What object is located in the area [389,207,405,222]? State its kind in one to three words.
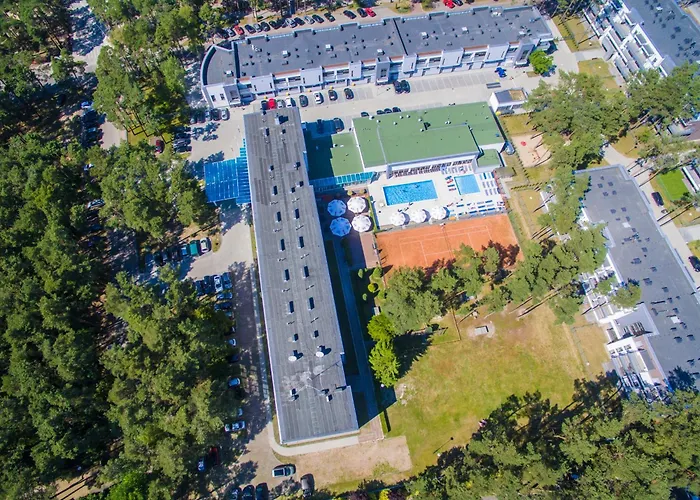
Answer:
umbrella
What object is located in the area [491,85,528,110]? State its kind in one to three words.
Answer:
building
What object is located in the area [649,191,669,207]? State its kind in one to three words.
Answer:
car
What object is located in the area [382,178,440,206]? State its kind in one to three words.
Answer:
swimming pool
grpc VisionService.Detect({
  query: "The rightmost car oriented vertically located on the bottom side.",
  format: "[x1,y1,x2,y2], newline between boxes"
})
[300,469,315,499]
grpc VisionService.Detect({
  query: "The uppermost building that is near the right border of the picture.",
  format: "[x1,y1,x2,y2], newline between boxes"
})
[570,0,700,84]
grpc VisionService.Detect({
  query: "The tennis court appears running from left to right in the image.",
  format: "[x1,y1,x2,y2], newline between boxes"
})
[375,213,530,295]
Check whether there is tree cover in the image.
Yes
